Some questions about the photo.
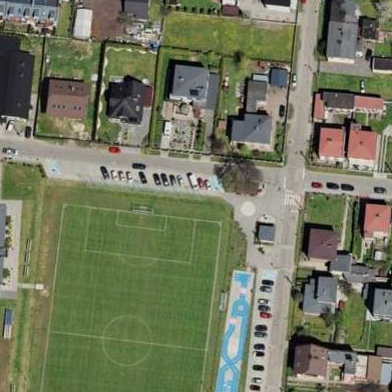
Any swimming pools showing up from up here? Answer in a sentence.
No, there isn't any swimming pool down there.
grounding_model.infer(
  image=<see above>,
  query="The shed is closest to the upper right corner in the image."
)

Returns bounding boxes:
[359,19,377,40]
